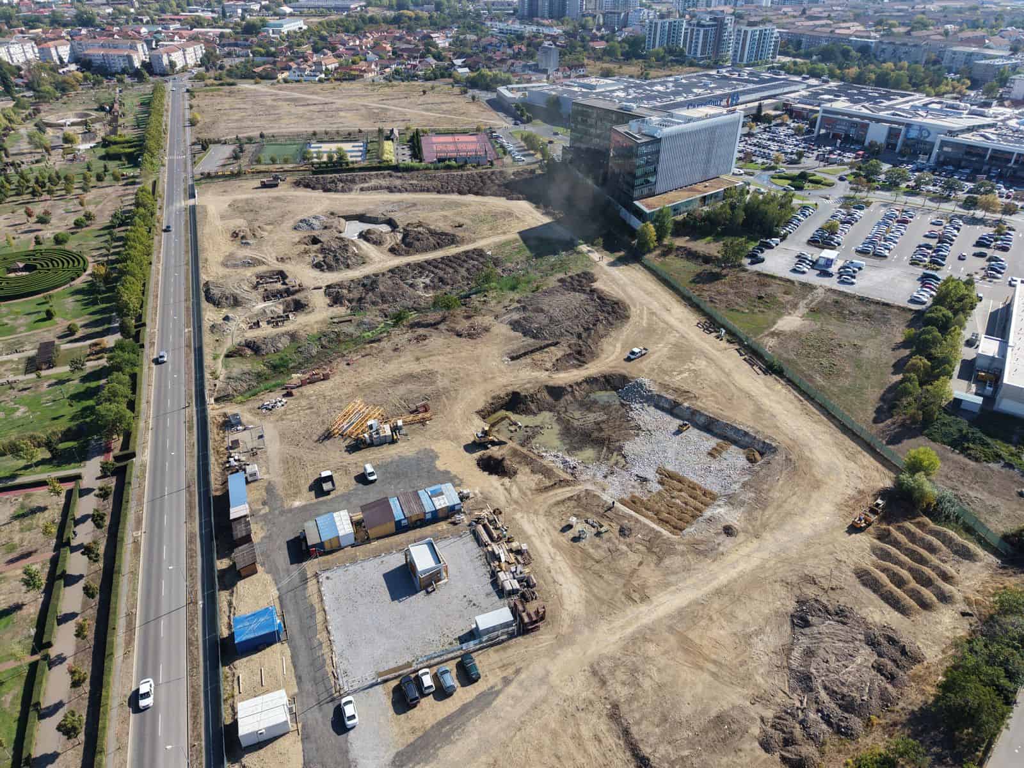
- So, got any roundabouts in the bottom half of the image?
No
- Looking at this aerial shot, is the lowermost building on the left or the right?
left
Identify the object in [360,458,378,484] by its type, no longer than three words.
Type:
car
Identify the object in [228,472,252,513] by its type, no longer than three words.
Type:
building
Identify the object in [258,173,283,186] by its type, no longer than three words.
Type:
vehicle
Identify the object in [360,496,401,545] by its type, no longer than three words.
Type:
shed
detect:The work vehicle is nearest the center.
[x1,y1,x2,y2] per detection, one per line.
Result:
[476,409,525,452]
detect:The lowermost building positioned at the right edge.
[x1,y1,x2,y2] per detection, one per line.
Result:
[950,277,1024,434]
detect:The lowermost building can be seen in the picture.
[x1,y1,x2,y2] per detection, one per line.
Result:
[237,688,294,746]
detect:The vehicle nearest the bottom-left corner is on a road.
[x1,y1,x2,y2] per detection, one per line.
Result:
[134,676,154,709]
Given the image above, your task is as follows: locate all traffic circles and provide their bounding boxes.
[760,166,844,199]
